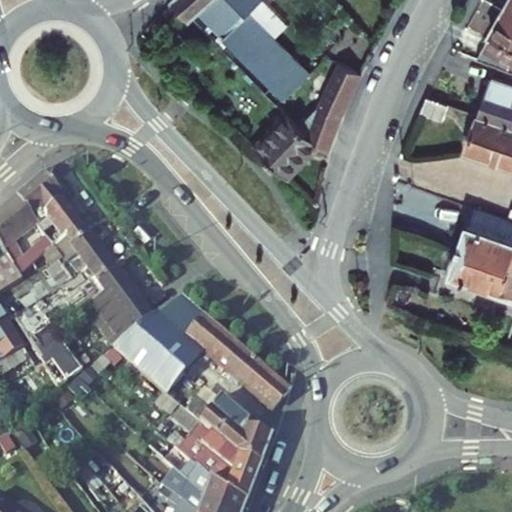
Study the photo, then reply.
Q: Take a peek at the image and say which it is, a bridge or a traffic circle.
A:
traffic circle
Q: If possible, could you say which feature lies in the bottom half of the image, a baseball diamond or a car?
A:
car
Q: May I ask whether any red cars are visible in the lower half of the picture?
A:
No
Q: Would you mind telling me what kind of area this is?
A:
residential area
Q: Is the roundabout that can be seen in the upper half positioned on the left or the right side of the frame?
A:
left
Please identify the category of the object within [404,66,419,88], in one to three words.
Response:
car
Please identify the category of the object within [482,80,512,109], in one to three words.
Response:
house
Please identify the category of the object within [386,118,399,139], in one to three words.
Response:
vehicle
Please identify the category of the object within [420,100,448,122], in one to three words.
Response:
shed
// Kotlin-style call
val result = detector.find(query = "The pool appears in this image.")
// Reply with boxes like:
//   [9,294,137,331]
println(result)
[58,428,74,443]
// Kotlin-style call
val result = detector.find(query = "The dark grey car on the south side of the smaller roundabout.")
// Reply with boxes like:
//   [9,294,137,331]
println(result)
[376,457,398,474]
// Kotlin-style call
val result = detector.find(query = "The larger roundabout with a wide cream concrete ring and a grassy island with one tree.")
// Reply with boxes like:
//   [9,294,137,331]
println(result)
[6,20,104,118]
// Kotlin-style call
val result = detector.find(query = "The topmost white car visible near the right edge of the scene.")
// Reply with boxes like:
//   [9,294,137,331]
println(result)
[468,66,489,78]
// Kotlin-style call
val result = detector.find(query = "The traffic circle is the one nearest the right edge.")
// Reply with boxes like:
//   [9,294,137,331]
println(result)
[328,371,414,457]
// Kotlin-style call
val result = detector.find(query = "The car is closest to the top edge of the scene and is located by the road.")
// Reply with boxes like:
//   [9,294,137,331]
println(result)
[392,13,410,38]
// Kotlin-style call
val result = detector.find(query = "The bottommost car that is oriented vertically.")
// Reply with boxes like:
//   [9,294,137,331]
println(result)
[266,471,278,492]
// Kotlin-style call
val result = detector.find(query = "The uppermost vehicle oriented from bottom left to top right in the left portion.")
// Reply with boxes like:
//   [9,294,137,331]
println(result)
[134,190,156,208]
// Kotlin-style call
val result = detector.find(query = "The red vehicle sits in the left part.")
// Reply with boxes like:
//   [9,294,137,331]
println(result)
[106,134,127,148]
